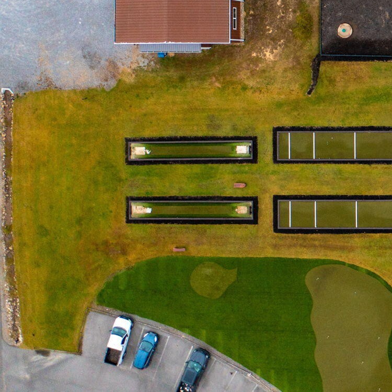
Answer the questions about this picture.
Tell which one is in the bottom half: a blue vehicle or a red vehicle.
blue vehicle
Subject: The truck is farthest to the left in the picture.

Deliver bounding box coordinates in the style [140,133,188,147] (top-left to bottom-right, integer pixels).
[102,312,137,367]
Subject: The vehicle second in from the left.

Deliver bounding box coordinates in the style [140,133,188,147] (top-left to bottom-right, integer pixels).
[133,328,162,370]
